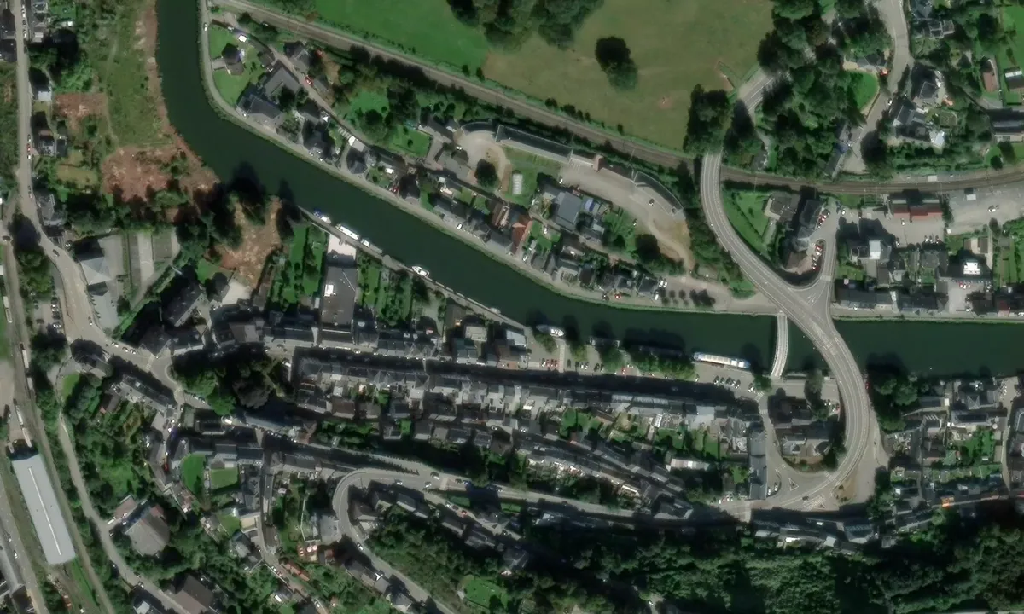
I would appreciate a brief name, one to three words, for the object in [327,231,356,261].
building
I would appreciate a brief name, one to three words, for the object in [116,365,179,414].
house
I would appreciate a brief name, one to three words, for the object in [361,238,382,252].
vessel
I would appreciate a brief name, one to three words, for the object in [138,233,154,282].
tennis court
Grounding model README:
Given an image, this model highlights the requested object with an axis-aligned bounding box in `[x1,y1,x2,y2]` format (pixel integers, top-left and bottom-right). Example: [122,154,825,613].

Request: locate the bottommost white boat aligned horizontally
[693,353,750,369]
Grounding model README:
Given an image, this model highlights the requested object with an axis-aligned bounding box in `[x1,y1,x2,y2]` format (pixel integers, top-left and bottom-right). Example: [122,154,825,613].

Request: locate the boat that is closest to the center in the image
[537,325,565,338]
